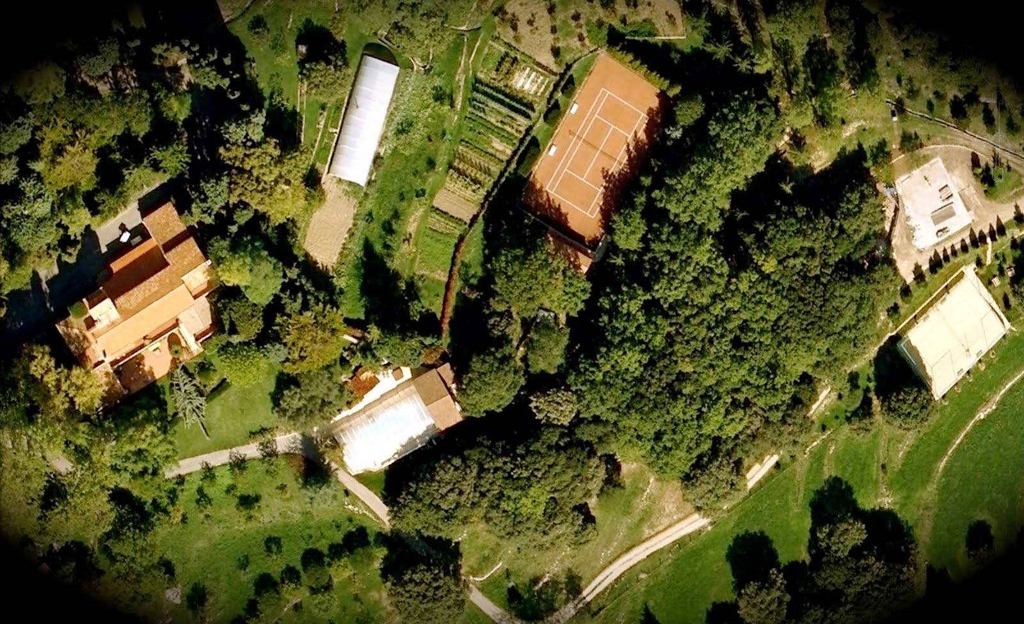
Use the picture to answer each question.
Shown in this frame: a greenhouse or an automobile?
greenhouse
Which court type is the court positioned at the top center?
tennis court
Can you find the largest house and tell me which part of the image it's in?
left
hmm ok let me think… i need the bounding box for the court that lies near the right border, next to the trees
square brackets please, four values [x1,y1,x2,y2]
[900,263,1012,401]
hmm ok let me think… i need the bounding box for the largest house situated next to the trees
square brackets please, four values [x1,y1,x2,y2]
[55,202,218,405]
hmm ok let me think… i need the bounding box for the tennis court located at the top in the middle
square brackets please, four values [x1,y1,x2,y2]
[517,48,676,251]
